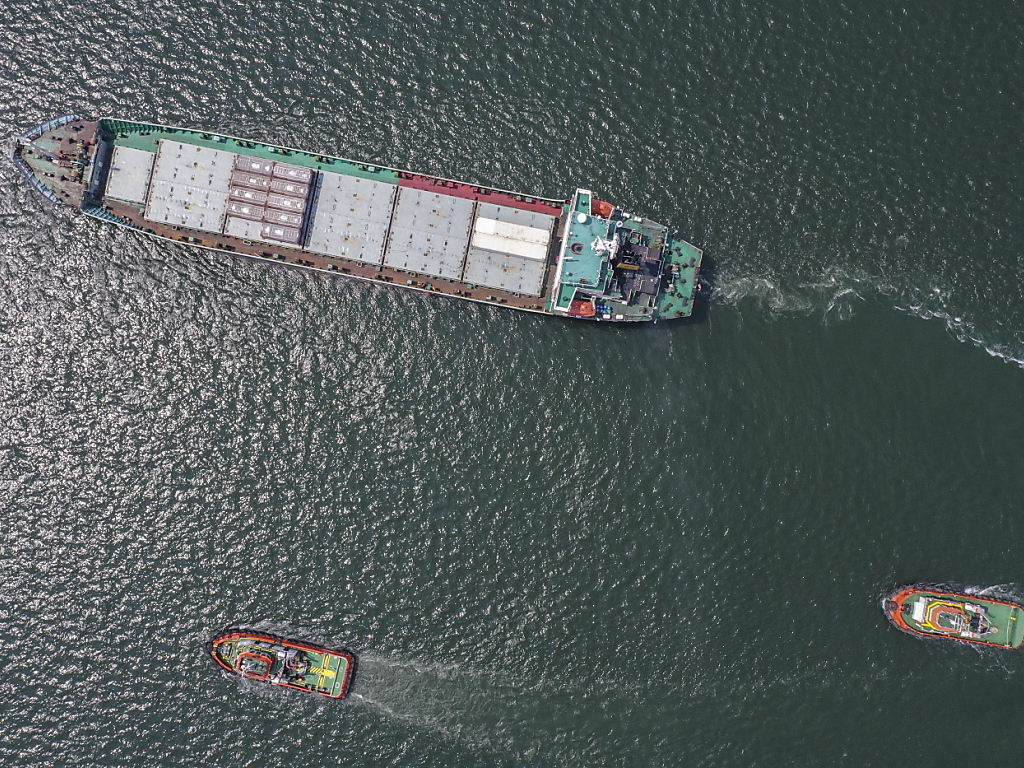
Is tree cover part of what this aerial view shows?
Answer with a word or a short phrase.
No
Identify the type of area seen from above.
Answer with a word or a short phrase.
port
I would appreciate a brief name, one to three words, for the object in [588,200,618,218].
boat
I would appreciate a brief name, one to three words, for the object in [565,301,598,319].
boat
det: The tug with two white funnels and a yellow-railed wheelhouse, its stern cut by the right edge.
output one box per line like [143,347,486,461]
[883,584,1024,647]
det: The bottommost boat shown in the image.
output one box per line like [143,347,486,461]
[206,628,358,695]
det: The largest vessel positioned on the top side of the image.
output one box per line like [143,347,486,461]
[8,116,702,324]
